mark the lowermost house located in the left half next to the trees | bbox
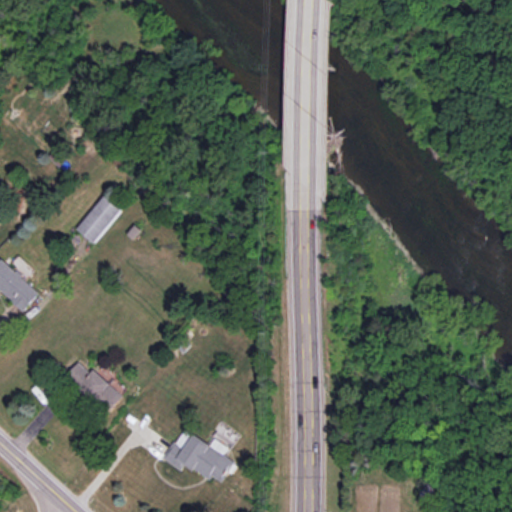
[162,432,241,484]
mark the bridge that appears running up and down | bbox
[282,0,336,210]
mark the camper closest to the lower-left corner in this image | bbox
[32,386,47,405]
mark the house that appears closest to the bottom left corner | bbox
[70,362,125,414]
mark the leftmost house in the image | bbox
[0,257,40,310]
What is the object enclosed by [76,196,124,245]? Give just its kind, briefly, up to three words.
barn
